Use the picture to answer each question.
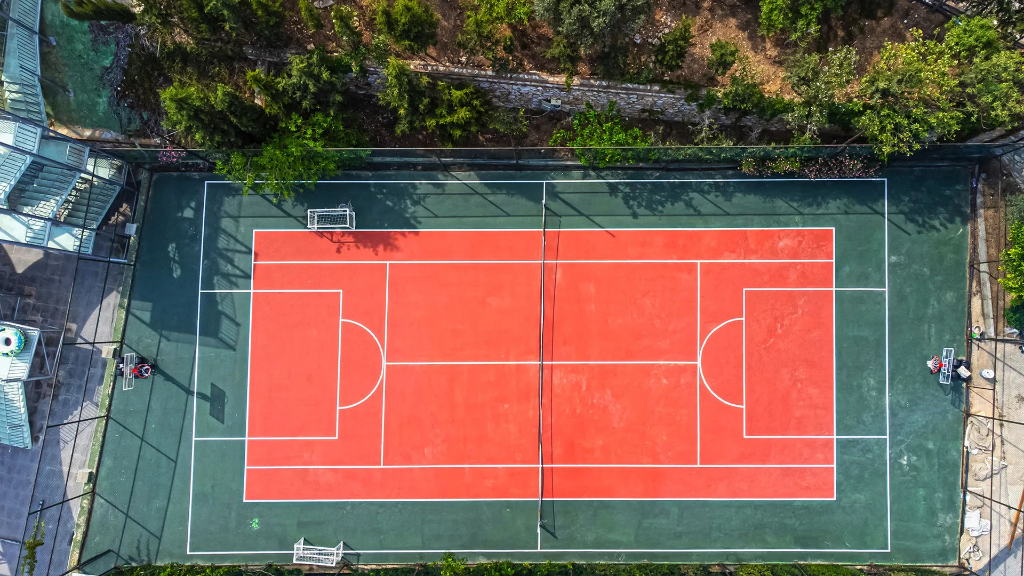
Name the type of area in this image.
sports ground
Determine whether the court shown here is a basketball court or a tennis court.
tennis court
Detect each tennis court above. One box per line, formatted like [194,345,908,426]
[67,166,975,567]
